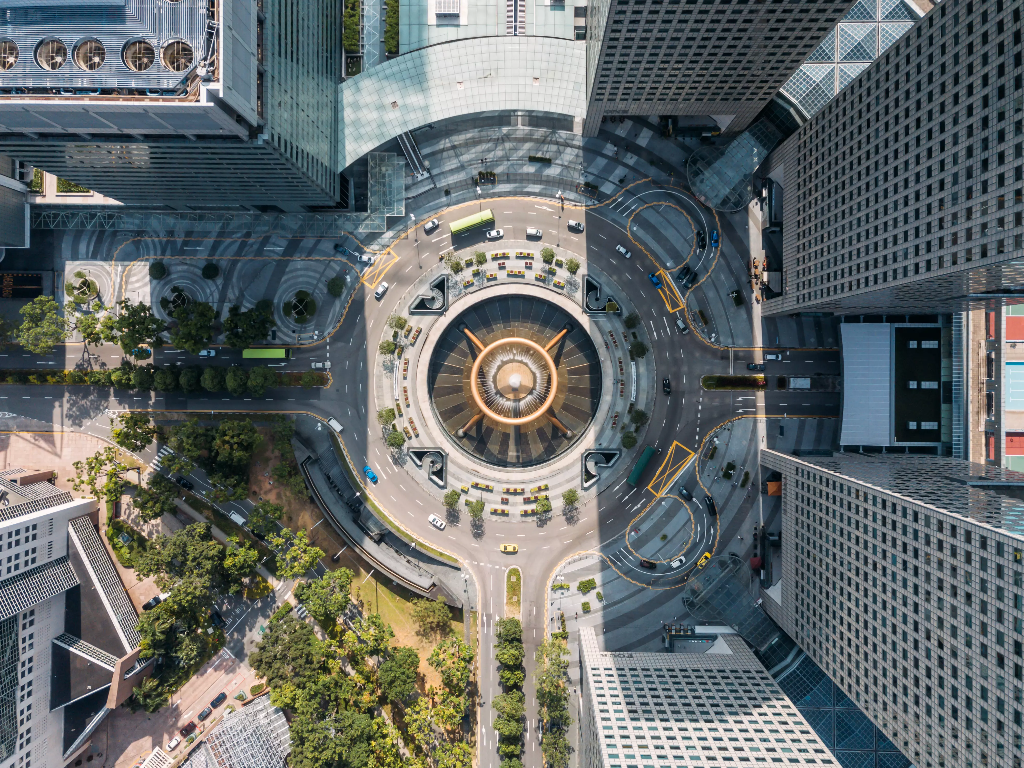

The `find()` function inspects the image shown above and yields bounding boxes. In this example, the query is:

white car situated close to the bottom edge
[165,736,181,751]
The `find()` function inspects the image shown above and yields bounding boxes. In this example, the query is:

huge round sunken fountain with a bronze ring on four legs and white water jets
[423,289,606,472]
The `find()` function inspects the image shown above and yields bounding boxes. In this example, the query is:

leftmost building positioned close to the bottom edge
[0,466,175,768]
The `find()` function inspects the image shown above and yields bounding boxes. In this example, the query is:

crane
[194,19,216,85]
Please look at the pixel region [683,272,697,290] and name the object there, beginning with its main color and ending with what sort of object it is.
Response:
black car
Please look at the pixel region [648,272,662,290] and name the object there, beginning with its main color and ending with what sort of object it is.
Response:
blue car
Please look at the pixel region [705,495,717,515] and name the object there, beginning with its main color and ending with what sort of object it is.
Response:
black vehicle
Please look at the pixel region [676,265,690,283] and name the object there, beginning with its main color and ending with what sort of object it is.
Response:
black car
